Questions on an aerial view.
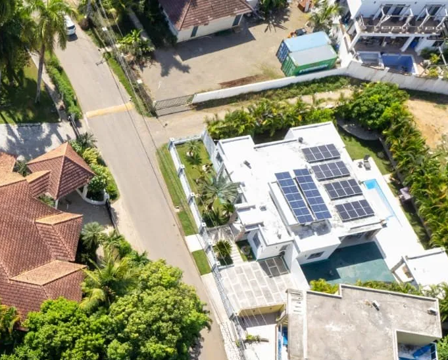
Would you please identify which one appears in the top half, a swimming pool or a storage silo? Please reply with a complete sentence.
Looking in the top half, you will find a swimming pool.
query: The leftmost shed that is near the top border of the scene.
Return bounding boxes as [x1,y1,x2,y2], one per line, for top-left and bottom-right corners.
[161,0,255,46]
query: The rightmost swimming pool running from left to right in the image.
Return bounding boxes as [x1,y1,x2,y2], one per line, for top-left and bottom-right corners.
[380,52,422,73]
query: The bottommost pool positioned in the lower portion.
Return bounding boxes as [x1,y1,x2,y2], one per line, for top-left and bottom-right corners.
[298,239,399,290]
